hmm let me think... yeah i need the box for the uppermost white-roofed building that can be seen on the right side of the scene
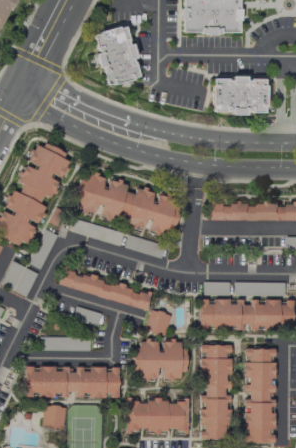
[183,0,246,34]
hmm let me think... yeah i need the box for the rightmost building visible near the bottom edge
[244,348,278,444]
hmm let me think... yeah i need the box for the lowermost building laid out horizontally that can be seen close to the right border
[202,298,296,331]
